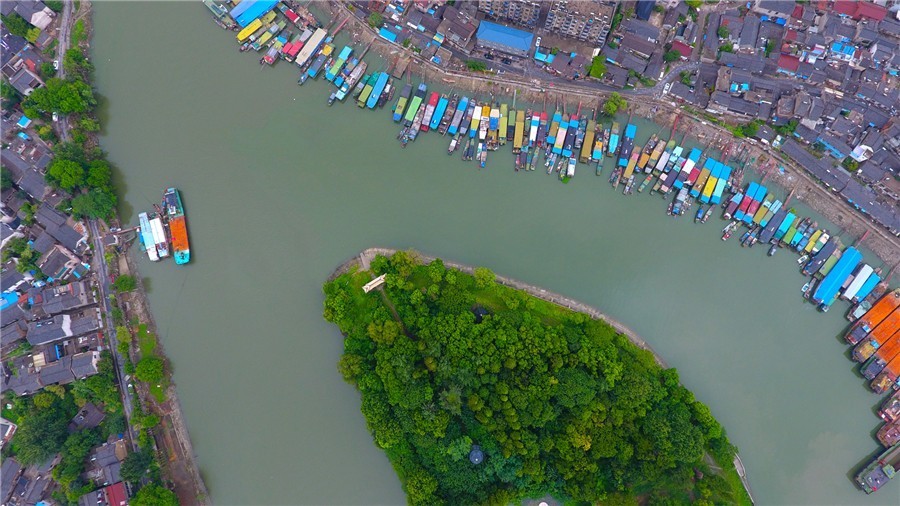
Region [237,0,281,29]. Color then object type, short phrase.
blue boat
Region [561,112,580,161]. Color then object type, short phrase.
blue boat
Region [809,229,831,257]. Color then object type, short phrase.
white boat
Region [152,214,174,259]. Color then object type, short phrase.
white boat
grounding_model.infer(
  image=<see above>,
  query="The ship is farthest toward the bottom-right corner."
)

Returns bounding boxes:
[855,444,900,491]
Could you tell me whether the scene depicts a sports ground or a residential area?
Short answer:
residential area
